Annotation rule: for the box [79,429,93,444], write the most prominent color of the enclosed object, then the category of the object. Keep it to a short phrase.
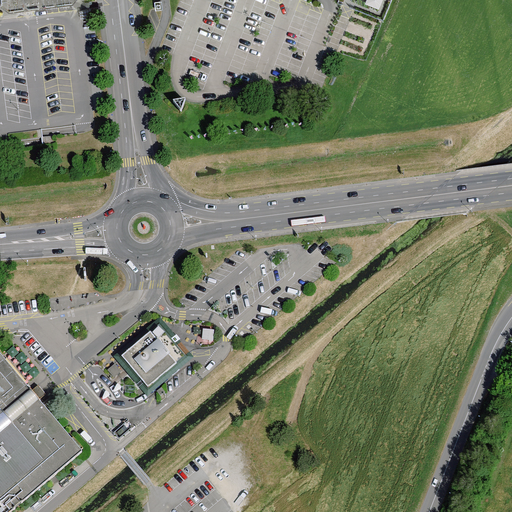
white vehicle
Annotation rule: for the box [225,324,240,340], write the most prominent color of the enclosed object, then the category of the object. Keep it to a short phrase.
white vehicle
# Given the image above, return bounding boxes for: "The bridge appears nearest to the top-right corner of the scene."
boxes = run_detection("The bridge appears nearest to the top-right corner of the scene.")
[397,162,512,222]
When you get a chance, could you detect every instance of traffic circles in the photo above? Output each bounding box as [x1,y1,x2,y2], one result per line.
[102,182,184,268]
